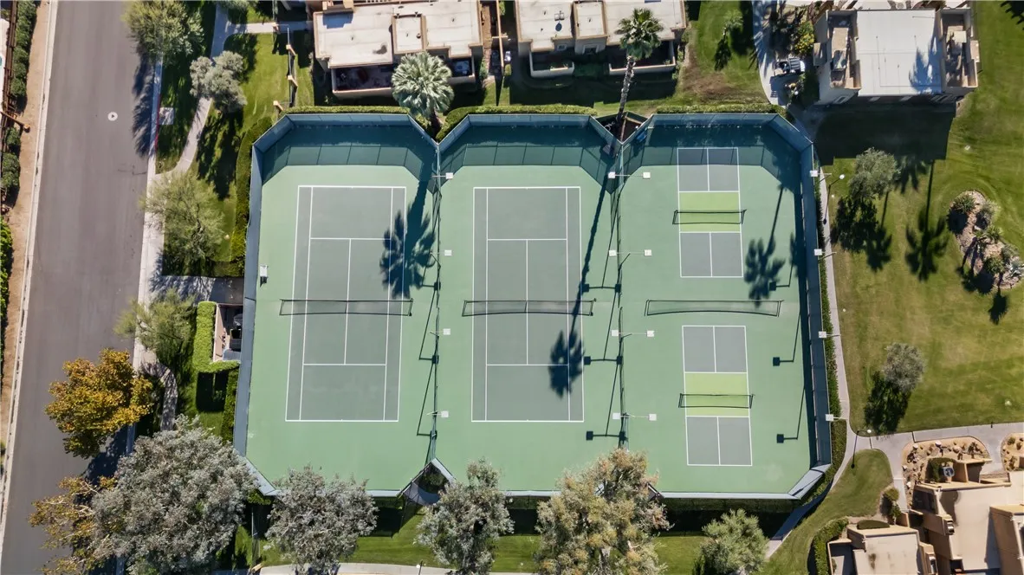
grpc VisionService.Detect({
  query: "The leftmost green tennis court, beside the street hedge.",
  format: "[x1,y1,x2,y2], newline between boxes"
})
[247,126,442,492]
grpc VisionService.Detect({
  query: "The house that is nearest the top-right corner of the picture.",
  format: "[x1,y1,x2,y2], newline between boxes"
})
[809,8,980,114]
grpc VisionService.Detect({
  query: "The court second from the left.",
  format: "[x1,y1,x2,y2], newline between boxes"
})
[439,126,621,491]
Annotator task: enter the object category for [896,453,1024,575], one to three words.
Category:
house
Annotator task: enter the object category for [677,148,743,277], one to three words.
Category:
sports court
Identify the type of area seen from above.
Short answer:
sports ground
